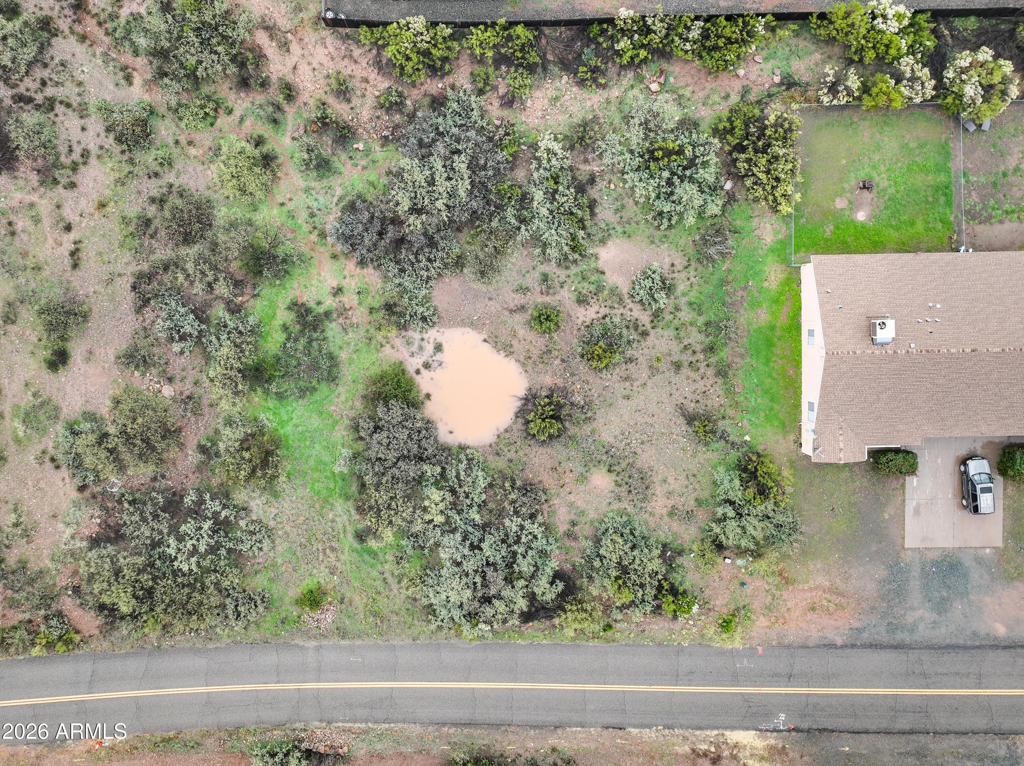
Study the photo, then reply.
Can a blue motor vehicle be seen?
No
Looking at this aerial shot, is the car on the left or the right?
right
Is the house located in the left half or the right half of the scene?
right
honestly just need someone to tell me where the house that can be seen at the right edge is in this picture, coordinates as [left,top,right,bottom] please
[798,252,1024,463]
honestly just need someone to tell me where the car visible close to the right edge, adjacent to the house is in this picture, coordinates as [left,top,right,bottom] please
[957,455,993,517]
